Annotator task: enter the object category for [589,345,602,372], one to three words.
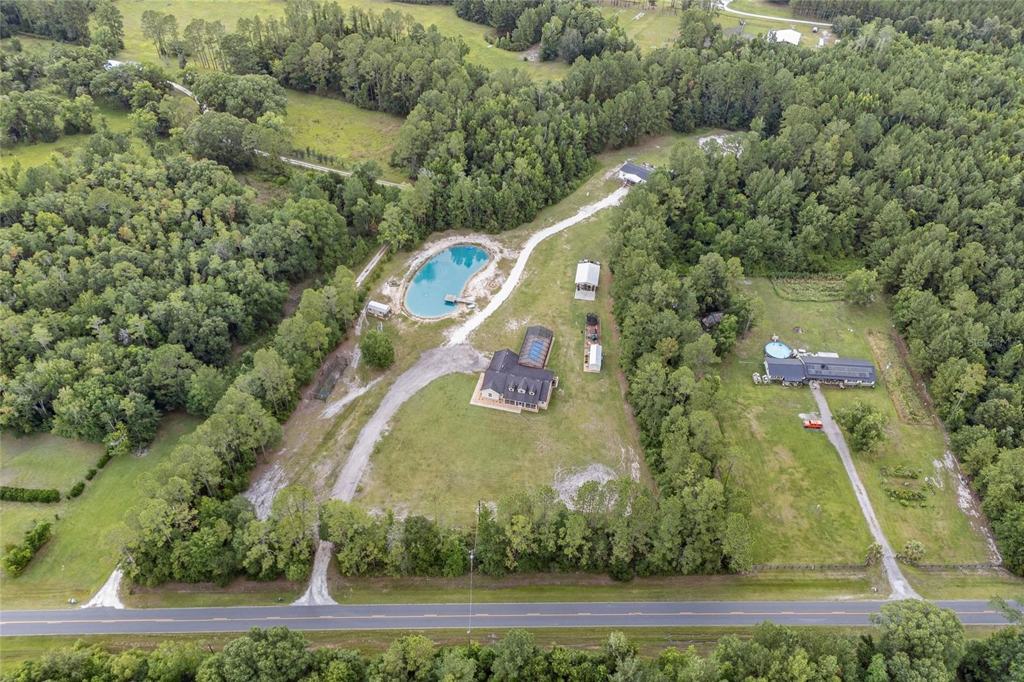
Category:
shed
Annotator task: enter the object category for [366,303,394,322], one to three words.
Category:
building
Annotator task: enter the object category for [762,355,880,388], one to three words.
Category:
house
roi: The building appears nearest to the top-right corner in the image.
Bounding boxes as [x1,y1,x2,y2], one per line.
[763,28,801,46]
